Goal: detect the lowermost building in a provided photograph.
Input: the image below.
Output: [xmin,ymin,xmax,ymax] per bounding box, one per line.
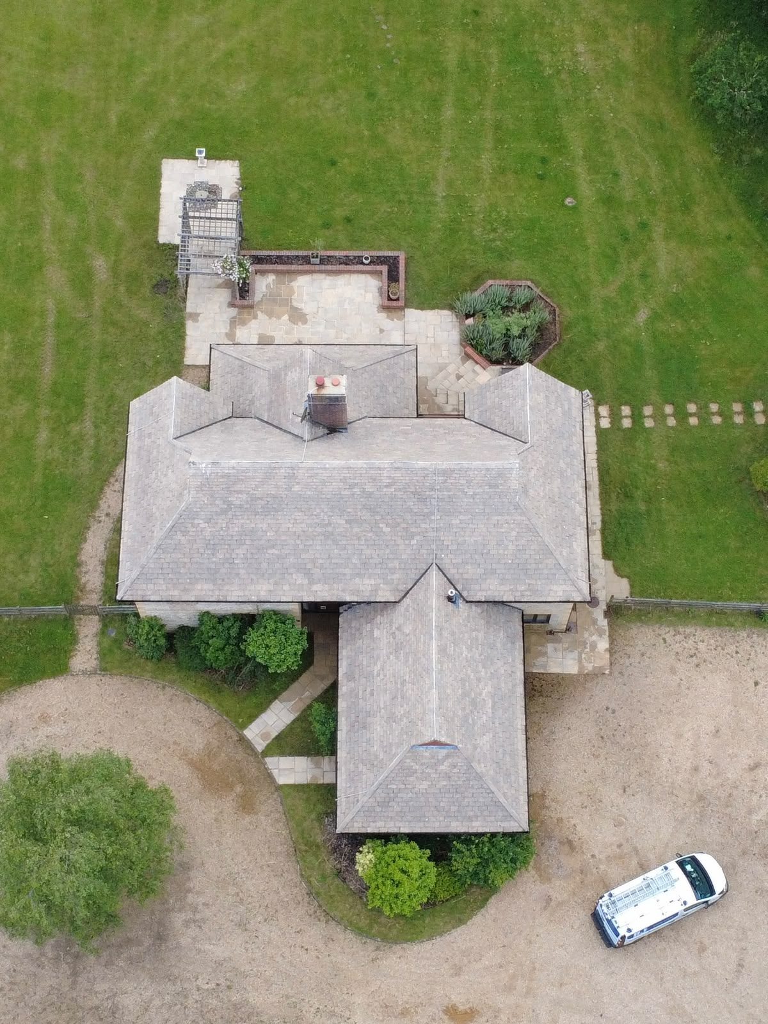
[113,343,593,837]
